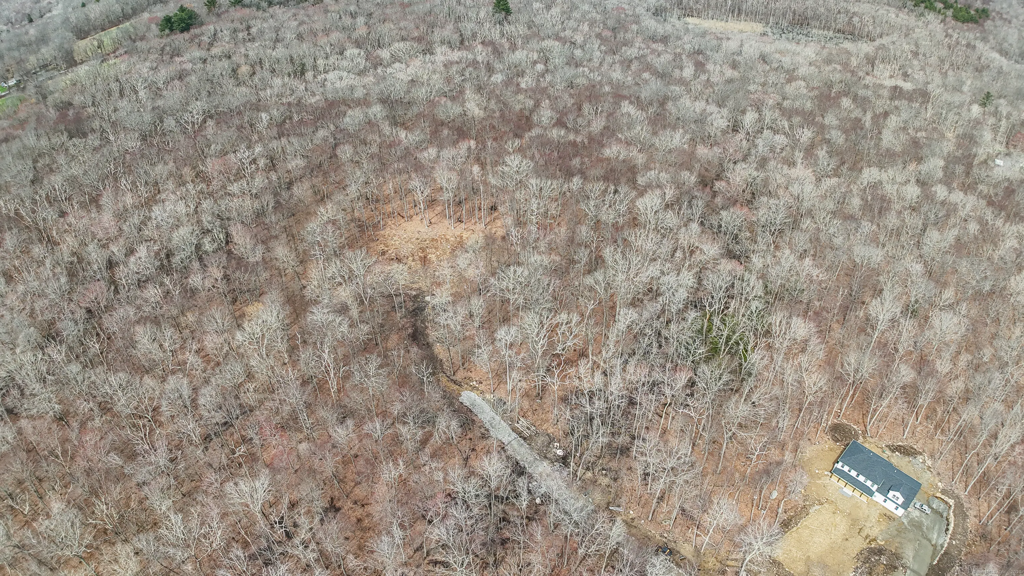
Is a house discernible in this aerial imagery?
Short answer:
Yes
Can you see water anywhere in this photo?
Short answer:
No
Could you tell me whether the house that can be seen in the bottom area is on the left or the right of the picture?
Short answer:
right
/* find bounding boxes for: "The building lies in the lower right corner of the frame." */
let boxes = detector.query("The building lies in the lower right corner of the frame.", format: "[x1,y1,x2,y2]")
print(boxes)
[828,440,922,515]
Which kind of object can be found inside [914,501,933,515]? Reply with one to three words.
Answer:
car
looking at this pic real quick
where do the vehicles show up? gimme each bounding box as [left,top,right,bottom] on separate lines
[914,501,933,515]
[656,545,675,560]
